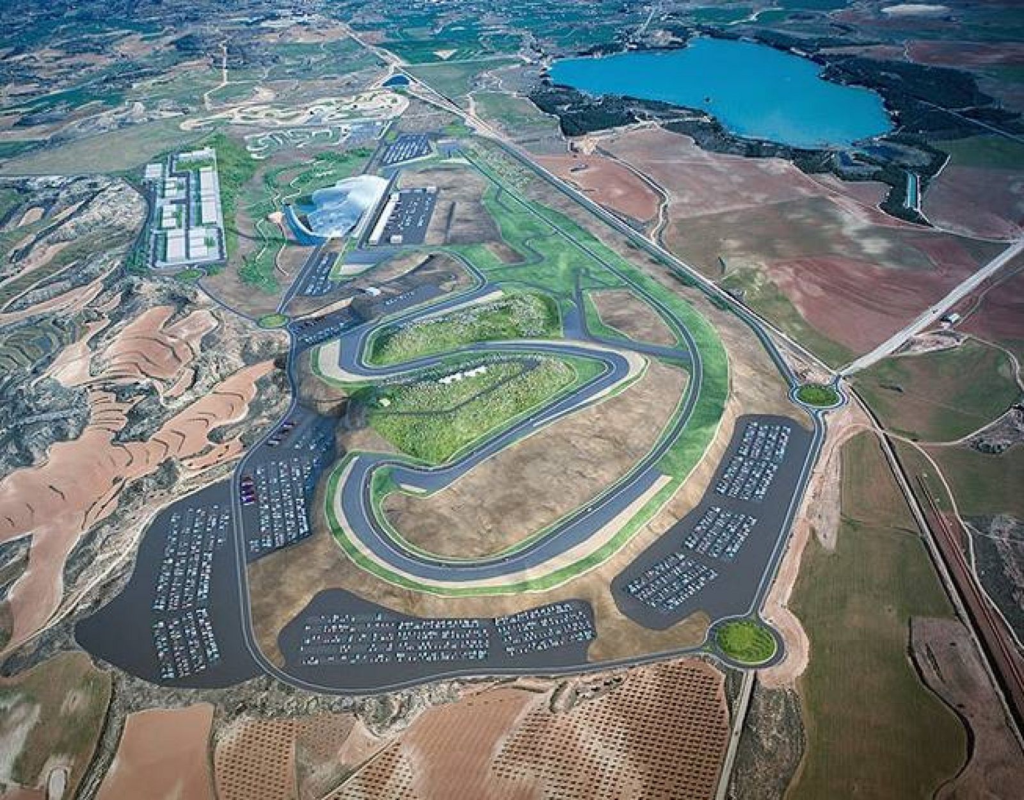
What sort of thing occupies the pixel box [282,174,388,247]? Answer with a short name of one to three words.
building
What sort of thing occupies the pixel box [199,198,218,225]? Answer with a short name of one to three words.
building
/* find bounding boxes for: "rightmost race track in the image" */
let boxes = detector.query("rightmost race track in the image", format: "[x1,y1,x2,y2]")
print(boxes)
[353,148,700,568]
